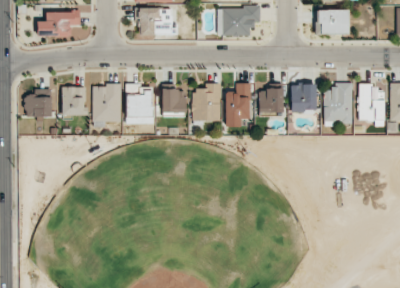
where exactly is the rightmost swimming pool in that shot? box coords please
[296,118,315,130]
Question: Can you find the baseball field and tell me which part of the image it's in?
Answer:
bottom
